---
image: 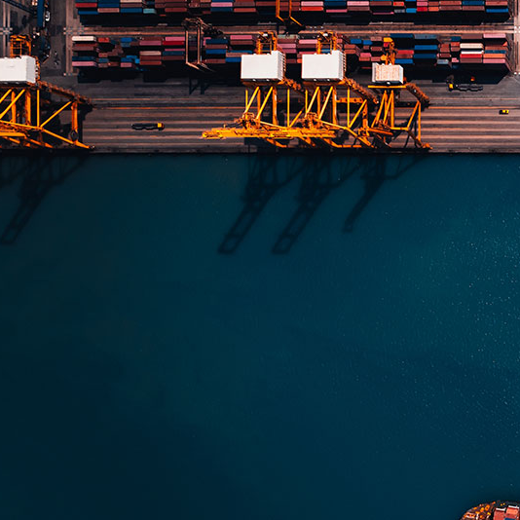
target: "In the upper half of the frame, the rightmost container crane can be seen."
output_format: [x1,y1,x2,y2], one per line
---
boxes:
[358,46,432,146]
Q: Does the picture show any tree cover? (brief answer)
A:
No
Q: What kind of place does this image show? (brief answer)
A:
port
